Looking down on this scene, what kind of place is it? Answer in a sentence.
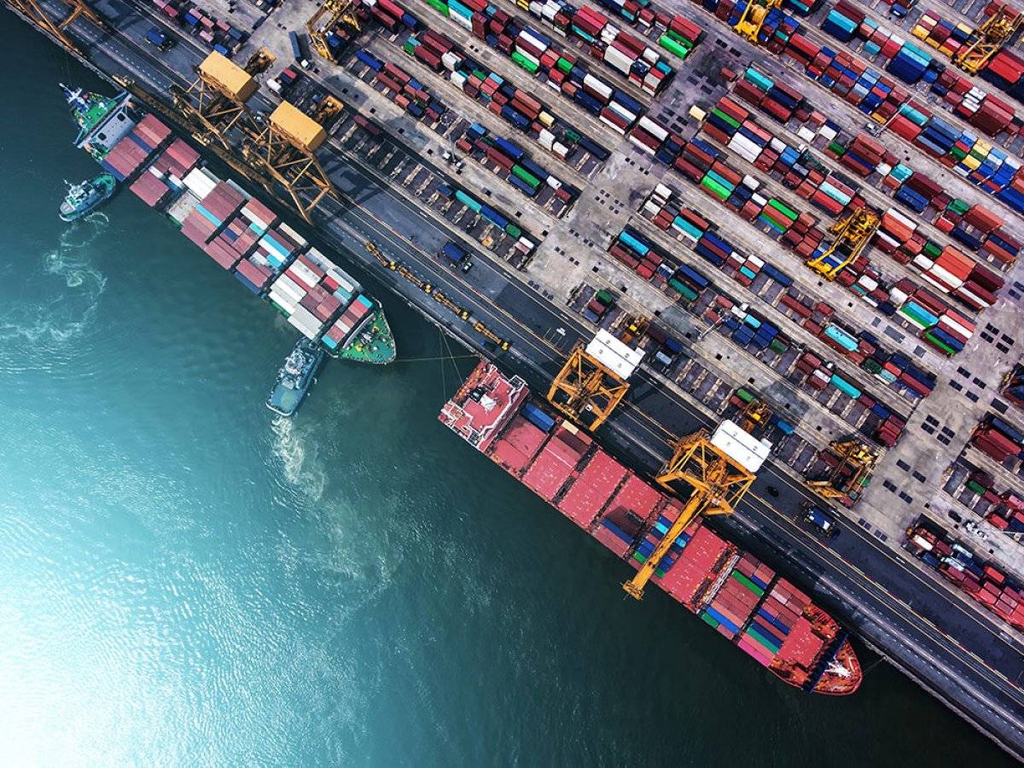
This image shows a port.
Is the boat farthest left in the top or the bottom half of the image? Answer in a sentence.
You can find the boat farthest left in the top half.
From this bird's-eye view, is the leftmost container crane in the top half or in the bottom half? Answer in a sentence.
The leftmost container crane sits in the top half of the picture.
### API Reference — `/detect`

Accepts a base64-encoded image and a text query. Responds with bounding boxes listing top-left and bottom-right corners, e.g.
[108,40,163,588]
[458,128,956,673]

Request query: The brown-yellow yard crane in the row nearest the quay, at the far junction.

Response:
[805,439,881,502]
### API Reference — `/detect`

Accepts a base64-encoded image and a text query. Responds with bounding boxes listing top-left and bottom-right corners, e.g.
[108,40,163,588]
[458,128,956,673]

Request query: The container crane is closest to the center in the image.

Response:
[540,314,650,435]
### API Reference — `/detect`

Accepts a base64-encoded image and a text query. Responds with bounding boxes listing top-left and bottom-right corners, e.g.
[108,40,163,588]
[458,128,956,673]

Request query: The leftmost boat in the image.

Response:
[55,175,118,229]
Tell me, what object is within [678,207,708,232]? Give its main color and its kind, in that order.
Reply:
red shipping container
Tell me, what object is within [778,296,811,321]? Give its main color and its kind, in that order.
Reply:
red shipping container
